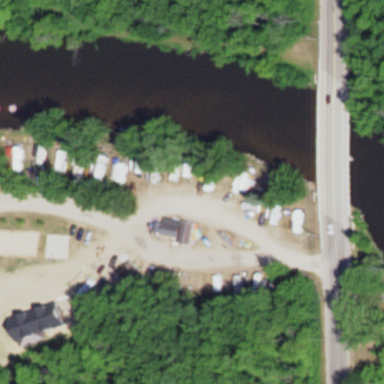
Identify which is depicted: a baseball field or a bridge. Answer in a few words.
bridge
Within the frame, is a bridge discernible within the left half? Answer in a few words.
No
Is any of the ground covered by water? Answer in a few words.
Yes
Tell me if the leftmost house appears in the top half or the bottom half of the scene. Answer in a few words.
bottom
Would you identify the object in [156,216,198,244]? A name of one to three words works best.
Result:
building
